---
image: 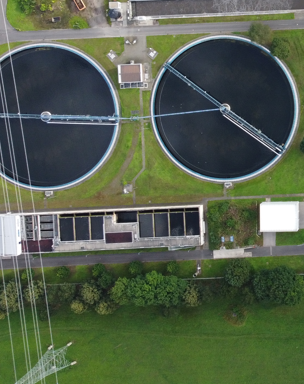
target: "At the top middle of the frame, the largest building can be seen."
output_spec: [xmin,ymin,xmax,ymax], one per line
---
[118,63,146,84]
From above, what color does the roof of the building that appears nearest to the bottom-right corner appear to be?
white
